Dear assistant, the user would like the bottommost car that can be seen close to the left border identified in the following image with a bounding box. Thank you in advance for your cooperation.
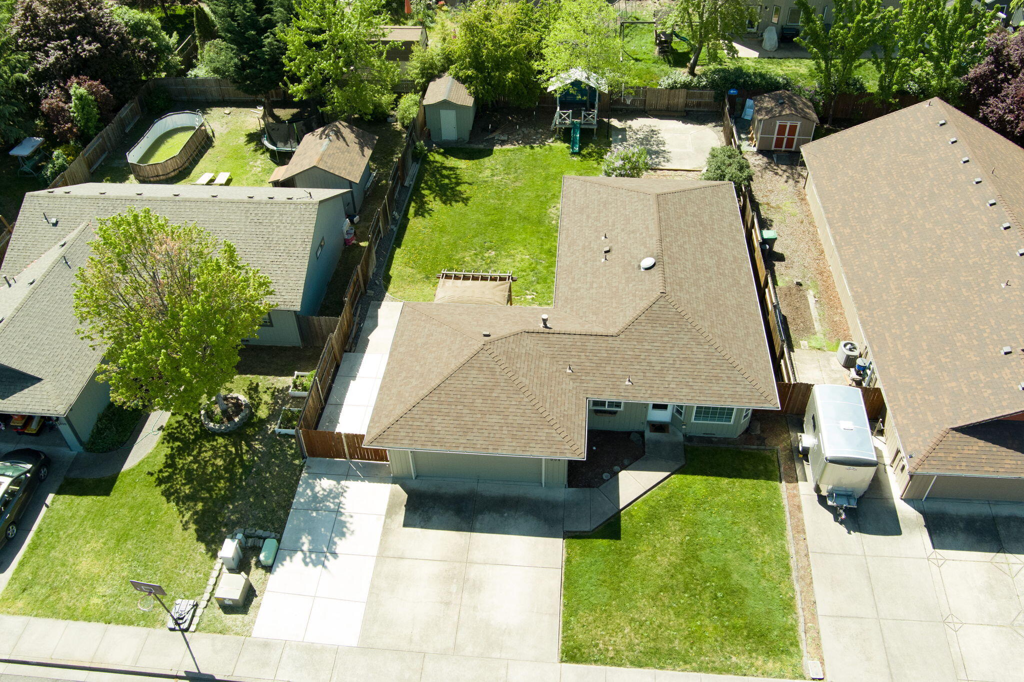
[0,448,49,544]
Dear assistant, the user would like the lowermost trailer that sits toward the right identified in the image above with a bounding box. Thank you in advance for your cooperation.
[797,384,879,531]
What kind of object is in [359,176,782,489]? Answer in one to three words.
house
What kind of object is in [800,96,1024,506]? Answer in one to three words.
house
